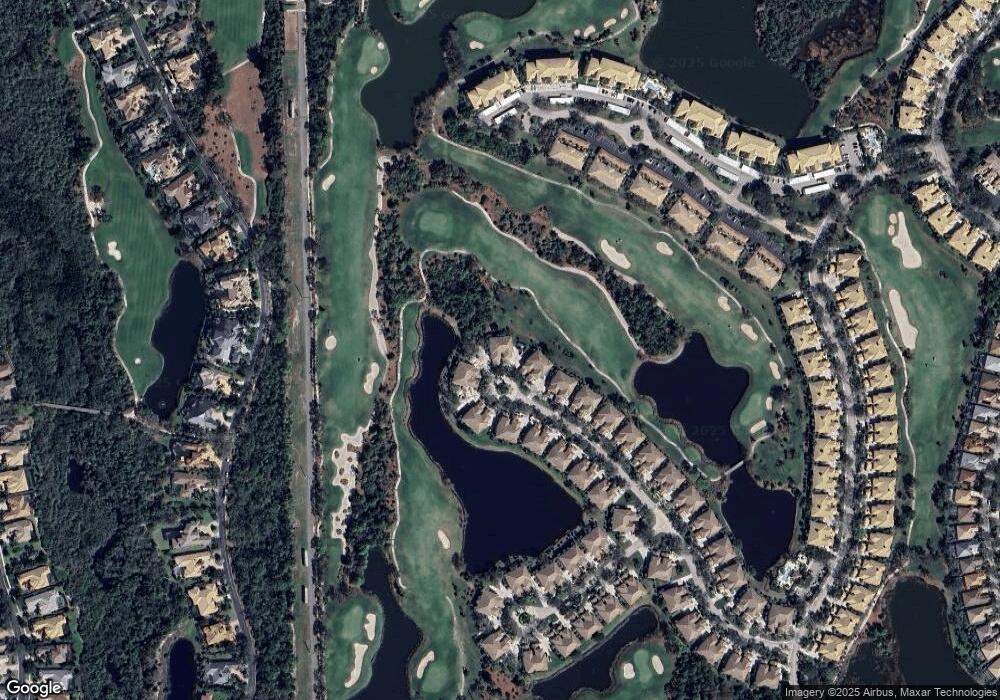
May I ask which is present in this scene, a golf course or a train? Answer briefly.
golf course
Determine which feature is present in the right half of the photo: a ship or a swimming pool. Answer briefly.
swimming pool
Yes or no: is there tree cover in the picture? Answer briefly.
Yes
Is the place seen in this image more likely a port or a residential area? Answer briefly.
residential area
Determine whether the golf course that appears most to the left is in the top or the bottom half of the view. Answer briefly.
top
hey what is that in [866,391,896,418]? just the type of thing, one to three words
house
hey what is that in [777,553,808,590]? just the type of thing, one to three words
swimming pool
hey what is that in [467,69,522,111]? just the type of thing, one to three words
building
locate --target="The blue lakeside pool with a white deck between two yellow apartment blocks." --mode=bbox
[644,76,675,104]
